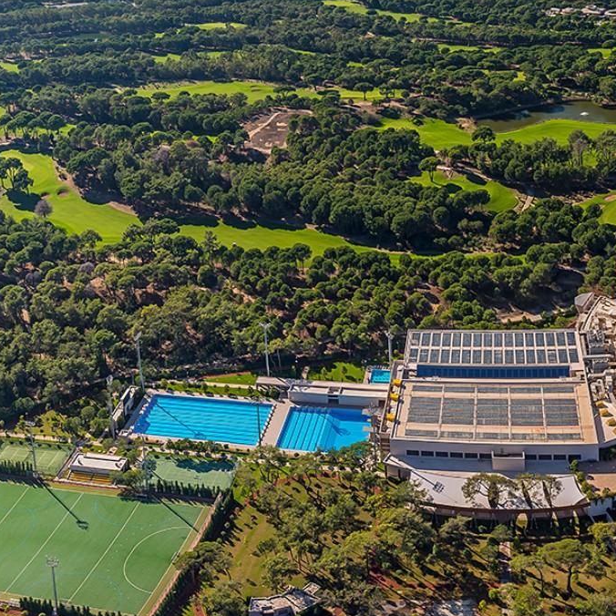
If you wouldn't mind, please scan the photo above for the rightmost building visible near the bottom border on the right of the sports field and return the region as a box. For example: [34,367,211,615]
[249,581,321,616]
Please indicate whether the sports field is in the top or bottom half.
bottom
